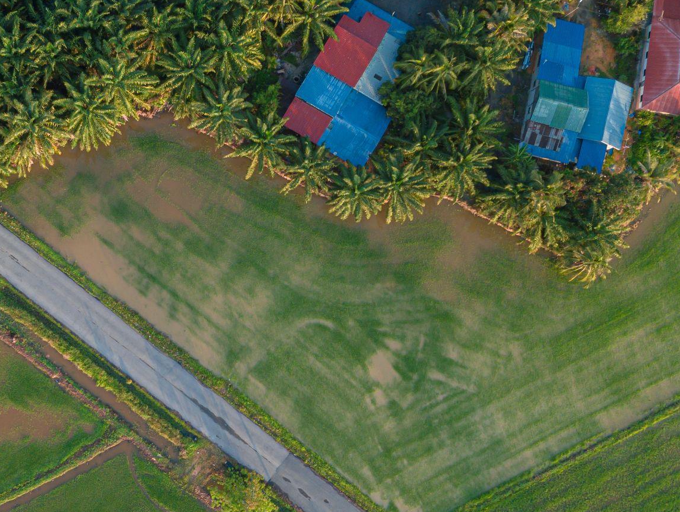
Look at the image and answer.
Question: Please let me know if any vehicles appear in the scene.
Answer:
No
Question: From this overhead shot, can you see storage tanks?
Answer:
No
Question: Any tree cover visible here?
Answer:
Yes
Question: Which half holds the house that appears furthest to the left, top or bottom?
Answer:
top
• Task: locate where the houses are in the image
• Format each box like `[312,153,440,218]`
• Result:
[517,18,634,174]
[282,0,406,166]
[634,0,680,114]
